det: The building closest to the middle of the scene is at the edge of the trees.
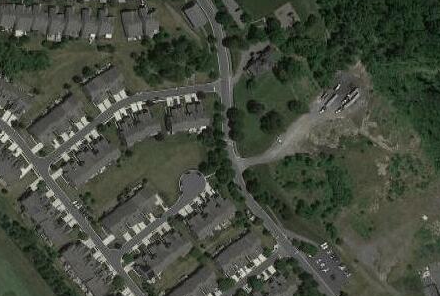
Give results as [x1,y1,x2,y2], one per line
[167,104,211,133]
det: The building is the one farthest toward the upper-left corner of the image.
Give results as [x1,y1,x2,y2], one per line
[0,2,16,28]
